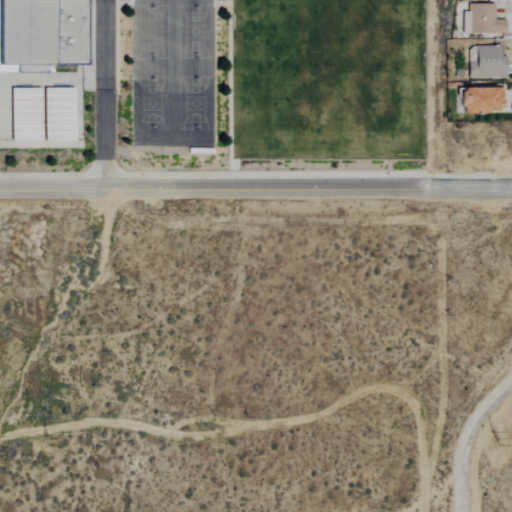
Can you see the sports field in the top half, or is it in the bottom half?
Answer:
top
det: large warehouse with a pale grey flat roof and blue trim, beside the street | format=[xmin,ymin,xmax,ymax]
[4,0,92,65]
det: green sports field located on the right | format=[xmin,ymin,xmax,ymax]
[234,0,425,159]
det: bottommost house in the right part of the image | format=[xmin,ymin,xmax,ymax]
[464,86,506,116]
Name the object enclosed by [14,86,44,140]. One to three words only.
shed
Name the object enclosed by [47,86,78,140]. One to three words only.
shed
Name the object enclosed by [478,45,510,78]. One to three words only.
house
